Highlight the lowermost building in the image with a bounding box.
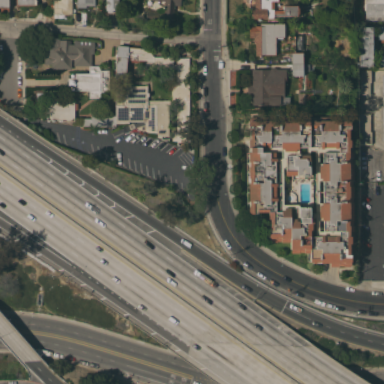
[312,236,354,266]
